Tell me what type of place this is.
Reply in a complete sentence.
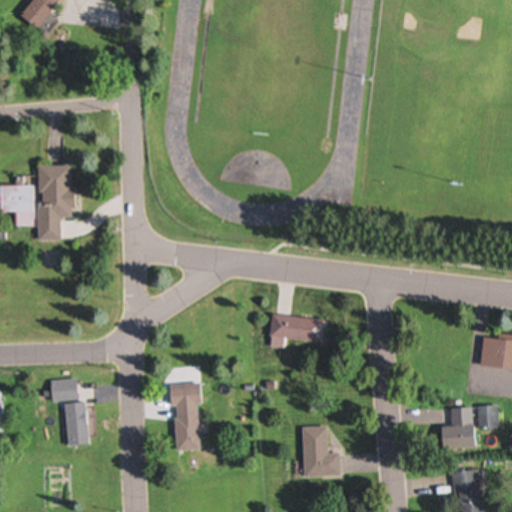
What you see here is a sports ground.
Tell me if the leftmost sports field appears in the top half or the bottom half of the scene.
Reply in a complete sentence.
The leftmost sports field is in the top half of the image.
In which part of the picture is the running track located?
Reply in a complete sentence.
The running track appears toward the top of the photo.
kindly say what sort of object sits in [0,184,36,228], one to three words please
building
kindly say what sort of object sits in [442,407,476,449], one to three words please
house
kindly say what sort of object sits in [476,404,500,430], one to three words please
building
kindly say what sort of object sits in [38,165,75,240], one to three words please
house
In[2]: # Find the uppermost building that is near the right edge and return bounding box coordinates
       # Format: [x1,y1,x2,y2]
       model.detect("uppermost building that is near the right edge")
[482,334,512,368]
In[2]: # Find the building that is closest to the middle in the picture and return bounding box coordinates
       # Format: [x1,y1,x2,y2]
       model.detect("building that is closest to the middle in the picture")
[270,314,324,348]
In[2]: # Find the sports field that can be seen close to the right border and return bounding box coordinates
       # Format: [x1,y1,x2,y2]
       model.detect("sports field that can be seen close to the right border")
[362,0,512,234]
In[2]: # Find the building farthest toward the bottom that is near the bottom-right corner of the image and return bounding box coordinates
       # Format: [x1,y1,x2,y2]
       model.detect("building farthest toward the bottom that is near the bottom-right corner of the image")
[454,469,485,512]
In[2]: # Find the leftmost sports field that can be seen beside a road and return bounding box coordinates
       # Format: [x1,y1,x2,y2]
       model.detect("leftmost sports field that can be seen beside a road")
[187,0,352,202]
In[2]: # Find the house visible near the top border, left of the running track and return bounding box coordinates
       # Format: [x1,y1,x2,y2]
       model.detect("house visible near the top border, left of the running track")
[22,0,62,32]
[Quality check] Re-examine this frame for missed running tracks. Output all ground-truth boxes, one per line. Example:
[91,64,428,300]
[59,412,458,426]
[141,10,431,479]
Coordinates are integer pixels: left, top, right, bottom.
[166,0,374,226]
